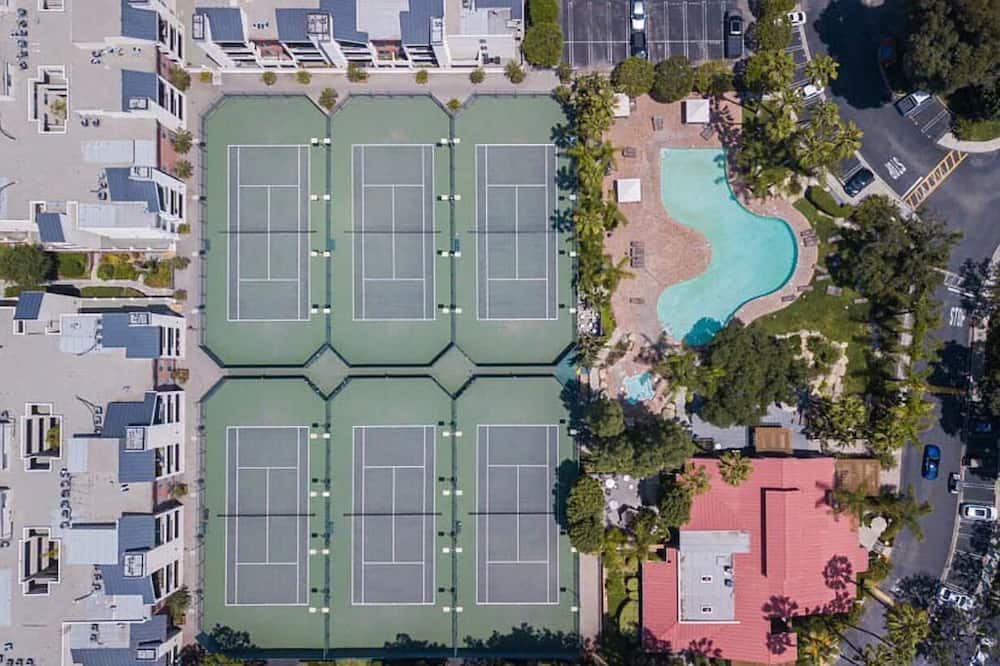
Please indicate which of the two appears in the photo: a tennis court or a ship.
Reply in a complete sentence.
Visible in the photo is a tennis court.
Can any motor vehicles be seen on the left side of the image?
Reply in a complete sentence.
No, the scene shows no motor vehicle on the left side of the image.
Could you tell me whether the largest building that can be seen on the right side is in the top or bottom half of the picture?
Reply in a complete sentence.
The largest building that can be seen on the right side is in the bottom half of the image.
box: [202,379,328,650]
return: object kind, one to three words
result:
tennis court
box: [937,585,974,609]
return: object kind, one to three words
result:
car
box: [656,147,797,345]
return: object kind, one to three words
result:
swimming pool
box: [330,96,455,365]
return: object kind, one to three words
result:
tennis court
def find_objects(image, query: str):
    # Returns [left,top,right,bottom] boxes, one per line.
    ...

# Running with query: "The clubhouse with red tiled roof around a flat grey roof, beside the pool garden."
[643,457,868,662]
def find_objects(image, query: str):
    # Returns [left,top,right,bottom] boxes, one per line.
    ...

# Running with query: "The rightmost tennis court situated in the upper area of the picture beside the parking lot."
[456,96,577,365]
